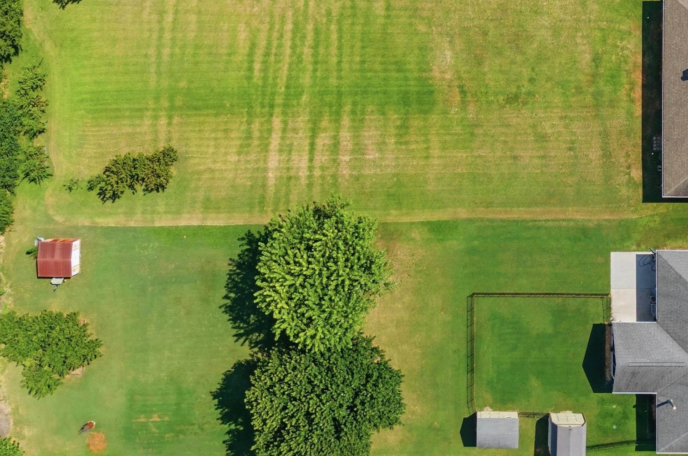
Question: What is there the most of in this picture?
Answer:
grass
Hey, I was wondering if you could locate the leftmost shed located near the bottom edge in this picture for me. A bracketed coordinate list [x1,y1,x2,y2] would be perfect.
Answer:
[477,412,519,448]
